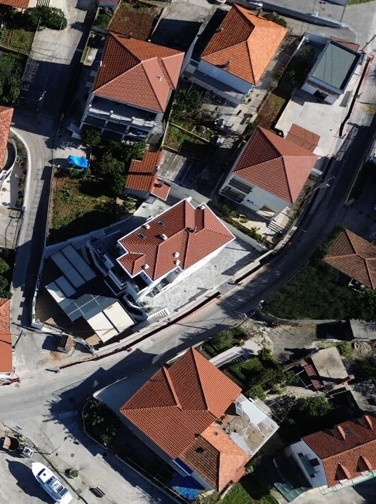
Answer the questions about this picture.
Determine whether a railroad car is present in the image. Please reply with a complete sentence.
No, I find no railroad car anywhere in the image.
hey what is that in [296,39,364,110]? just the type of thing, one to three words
house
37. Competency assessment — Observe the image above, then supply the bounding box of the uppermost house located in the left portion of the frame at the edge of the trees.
[80,30,185,144]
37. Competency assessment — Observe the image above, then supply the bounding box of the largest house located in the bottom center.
[113,346,281,494]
